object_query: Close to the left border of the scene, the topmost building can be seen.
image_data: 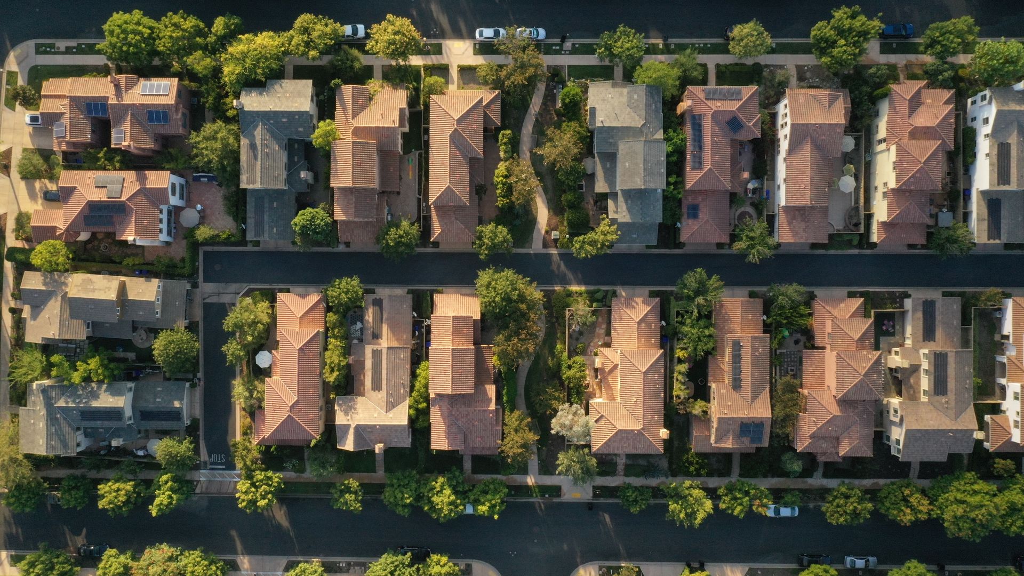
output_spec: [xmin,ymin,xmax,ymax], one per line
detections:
[34,73,196,153]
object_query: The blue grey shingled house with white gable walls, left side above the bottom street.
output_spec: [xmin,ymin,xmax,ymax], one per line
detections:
[19,374,195,457]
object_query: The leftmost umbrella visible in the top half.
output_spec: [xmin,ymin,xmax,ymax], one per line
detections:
[181,207,201,227]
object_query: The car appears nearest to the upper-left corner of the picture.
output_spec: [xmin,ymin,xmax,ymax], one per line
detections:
[24,112,38,128]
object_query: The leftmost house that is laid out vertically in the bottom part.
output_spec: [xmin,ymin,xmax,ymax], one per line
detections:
[254,293,327,446]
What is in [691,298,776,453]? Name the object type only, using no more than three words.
house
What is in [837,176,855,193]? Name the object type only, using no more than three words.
umbrella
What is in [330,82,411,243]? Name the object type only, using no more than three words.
house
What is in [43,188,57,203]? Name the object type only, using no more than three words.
car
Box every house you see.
[254,293,327,446]
[587,298,669,455]
[428,294,502,455]
[691,298,776,453]
[34,73,196,153]
[333,294,414,453]
[668,85,762,244]
[16,271,196,342]
[330,82,411,243]
[587,81,667,244]
[871,80,956,244]
[962,81,1024,244]
[429,89,501,243]
[882,298,985,458]
[234,80,321,240]
[26,169,185,246]
[793,298,883,462]
[774,87,853,244]
[19,374,195,457]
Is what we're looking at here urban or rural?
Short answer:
urban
